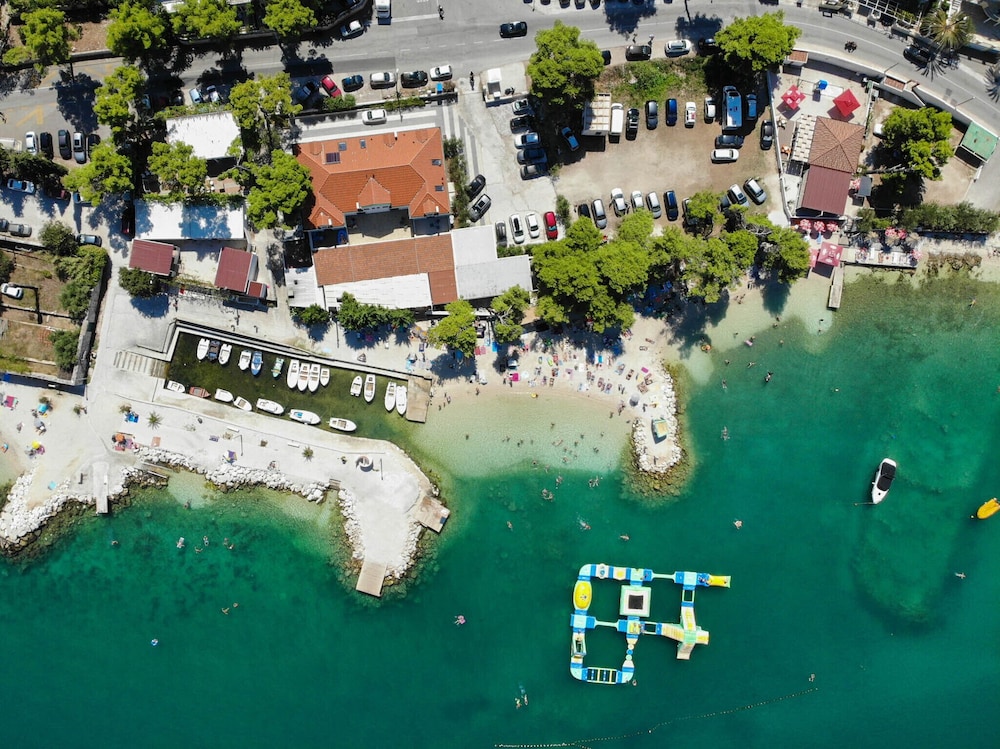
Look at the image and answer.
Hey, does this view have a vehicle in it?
Yes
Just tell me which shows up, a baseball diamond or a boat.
boat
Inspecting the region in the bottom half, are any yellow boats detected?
Yes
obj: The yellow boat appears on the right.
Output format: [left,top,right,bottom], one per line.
[977,493,1000,519]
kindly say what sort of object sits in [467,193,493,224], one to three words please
car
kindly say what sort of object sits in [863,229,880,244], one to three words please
umbrella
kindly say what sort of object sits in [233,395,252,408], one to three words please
boat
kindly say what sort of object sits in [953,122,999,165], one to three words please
shed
